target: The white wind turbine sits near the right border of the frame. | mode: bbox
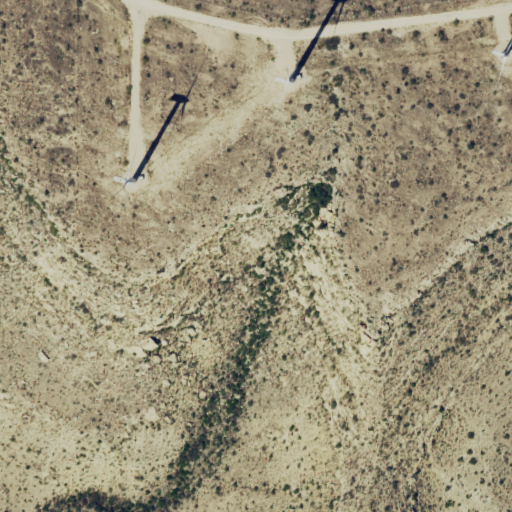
[490,40,512,94]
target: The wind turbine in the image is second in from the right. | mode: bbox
[273,56,299,118]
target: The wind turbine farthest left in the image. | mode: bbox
[113,156,140,220]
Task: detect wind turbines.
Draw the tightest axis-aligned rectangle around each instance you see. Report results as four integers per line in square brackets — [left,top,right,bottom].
[113,156,140,220]
[490,40,512,94]
[273,56,299,118]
